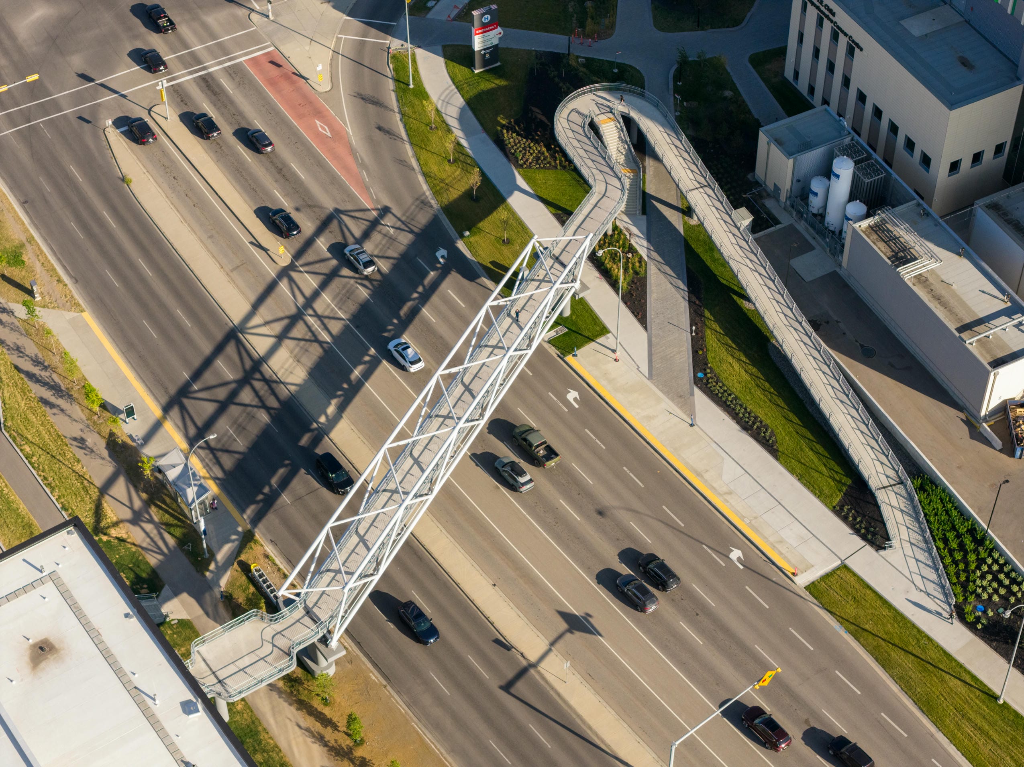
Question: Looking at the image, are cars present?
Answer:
Yes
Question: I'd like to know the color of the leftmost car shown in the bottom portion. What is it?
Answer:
black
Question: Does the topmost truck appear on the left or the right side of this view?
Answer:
left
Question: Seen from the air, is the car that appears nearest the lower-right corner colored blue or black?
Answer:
black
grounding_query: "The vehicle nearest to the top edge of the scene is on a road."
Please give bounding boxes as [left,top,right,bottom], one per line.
[145,3,179,36]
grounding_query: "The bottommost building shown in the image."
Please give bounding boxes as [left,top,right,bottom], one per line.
[0,514,259,767]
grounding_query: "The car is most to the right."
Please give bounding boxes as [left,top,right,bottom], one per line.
[825,731,877,767]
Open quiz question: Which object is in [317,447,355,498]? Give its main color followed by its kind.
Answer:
black car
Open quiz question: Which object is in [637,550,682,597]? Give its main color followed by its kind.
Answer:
black car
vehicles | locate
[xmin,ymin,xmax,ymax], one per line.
[268,207,301,242]
[145,3,179,36]
[142,48,168,76]
[317,447,355,498]
[193,112,223,142]
[742,704,794,758]
[247,128,277,158]
[513,423,562,470]
[387,338,425,376]
[637,550,682,597]
[398,596,440,649]
[128,117,157,148]
[825,731,877,767]
[616,572,660,619]
[343,244,379,279]
[494,455,535,496]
